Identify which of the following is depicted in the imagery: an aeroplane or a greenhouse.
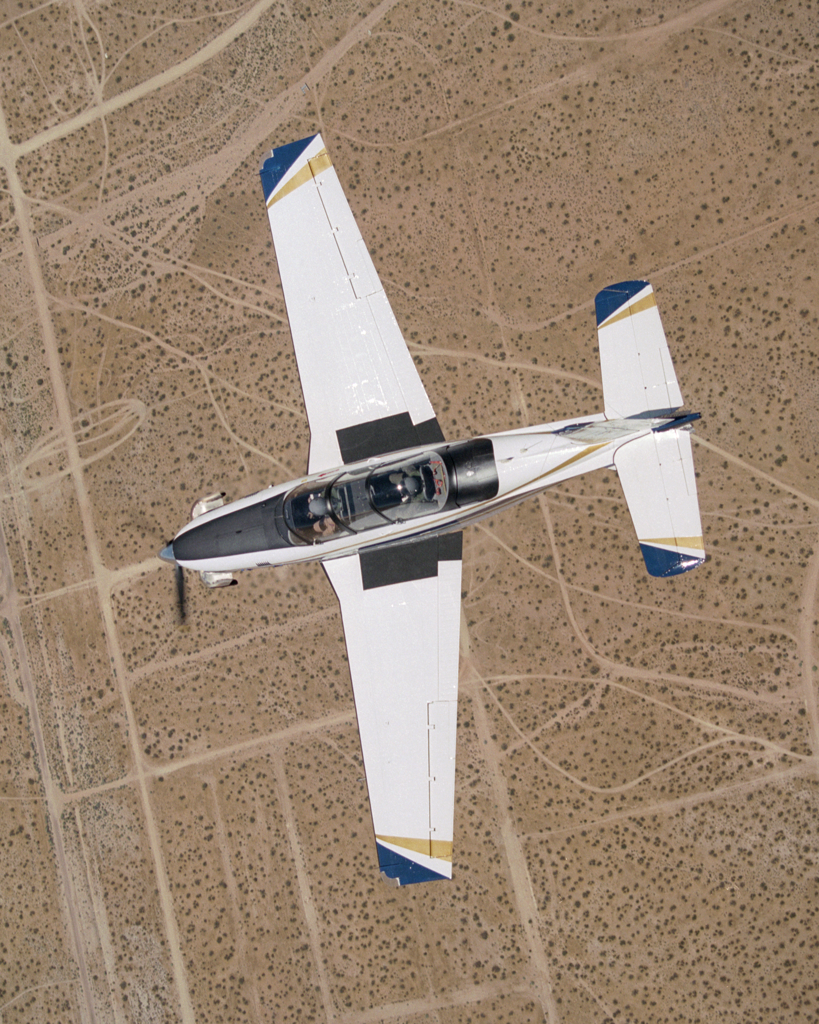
aeroplane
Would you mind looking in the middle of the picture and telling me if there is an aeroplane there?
Yes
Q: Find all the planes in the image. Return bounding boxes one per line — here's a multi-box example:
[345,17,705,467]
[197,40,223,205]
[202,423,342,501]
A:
[145,133,705,886]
